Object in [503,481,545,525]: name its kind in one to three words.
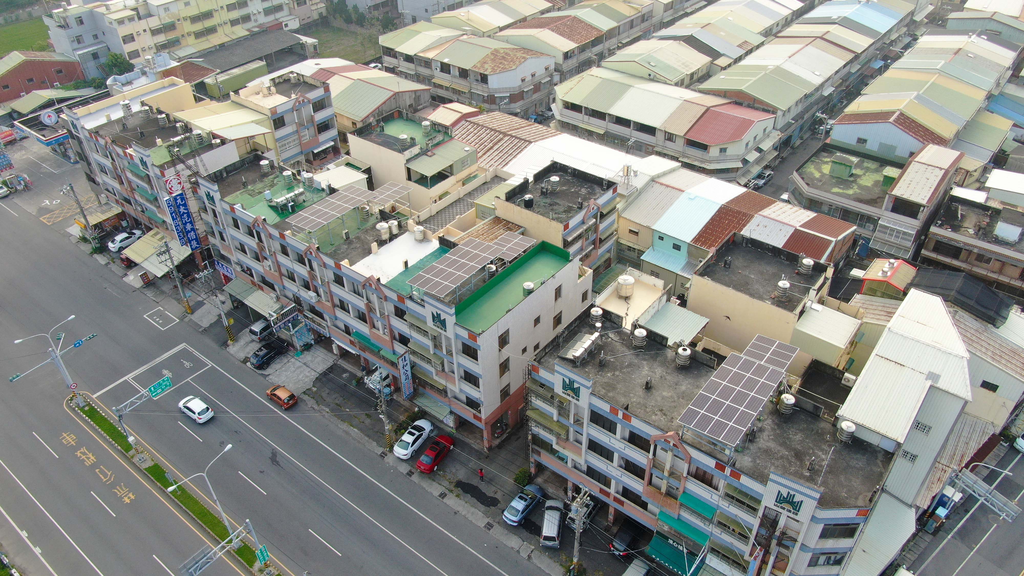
car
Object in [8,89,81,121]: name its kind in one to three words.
shed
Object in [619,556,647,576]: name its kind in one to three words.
car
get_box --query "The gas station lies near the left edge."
[14,91,109,164]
